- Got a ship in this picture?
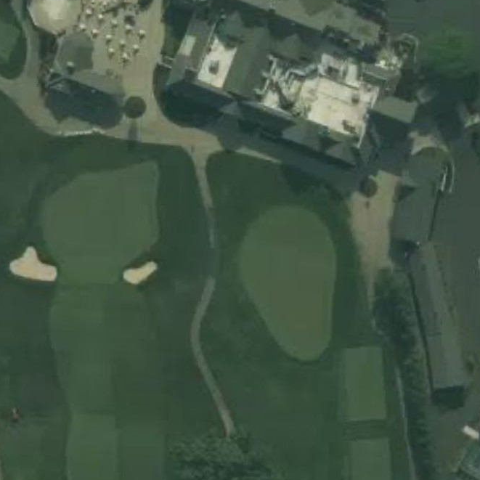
No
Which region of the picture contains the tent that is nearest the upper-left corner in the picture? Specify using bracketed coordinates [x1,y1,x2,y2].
[30,0,82,37]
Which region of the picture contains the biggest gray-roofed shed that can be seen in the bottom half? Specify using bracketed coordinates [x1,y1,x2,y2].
[406,242,465,391]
